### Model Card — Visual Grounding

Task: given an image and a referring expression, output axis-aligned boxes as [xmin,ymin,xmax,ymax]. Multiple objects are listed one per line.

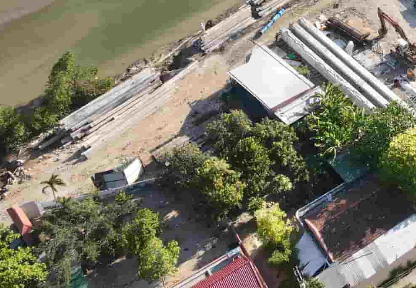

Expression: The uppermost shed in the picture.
[228,41,321,135]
